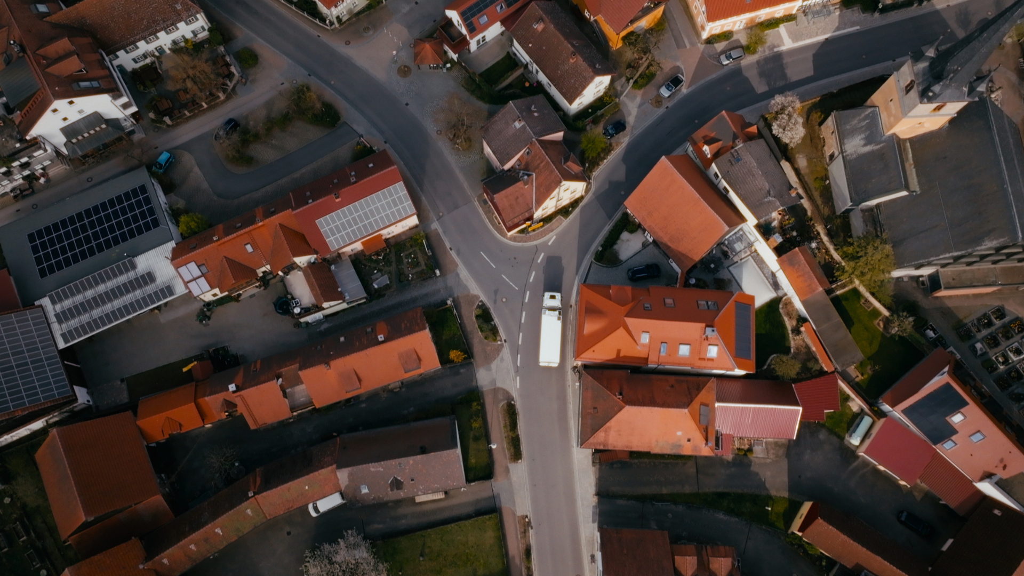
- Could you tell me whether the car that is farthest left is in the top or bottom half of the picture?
top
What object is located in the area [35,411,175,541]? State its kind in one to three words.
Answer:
barn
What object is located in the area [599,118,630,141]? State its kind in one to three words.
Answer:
car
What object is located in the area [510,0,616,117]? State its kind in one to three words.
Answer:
house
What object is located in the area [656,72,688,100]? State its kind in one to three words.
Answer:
car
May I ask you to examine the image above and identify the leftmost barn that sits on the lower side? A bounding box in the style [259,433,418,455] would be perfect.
[0,304,91,425]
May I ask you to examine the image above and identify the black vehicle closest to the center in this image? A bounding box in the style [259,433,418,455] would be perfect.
[626,263,662,282]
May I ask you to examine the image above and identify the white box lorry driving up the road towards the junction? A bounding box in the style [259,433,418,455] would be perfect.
[539,293,564,370]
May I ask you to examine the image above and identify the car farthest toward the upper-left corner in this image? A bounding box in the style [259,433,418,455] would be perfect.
[150,148,177,174]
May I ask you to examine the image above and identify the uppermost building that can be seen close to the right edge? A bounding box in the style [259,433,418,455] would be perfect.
[817,4,1024,273]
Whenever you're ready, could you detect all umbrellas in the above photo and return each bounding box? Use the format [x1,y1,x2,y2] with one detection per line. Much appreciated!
[686,276,696,286]
[36,175,50,187]
[34,167,48,178]
[292,305,303,316]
